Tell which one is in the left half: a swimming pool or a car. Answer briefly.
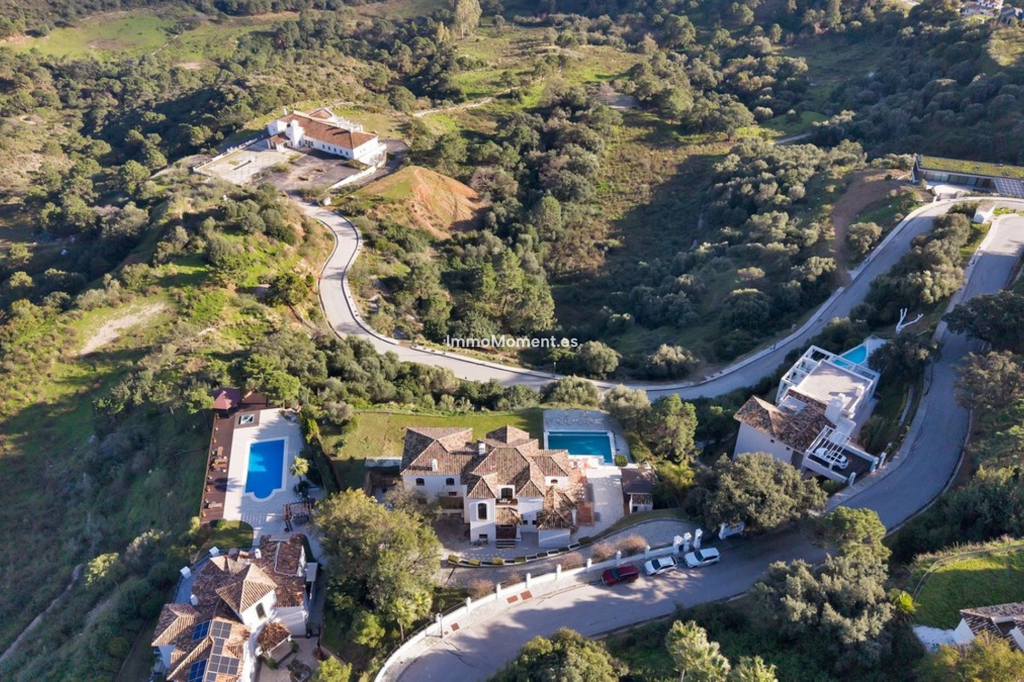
swimming pool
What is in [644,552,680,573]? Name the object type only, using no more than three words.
car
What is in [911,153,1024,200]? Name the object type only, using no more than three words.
building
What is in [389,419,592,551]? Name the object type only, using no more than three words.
house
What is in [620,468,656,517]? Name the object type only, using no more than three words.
shed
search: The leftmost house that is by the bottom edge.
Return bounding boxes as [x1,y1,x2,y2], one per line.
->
[149,533,317,682]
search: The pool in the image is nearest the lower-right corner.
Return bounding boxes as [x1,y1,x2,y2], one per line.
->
[834,343,870,369]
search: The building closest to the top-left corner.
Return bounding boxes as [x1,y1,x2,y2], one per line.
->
[266,106,387,163]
